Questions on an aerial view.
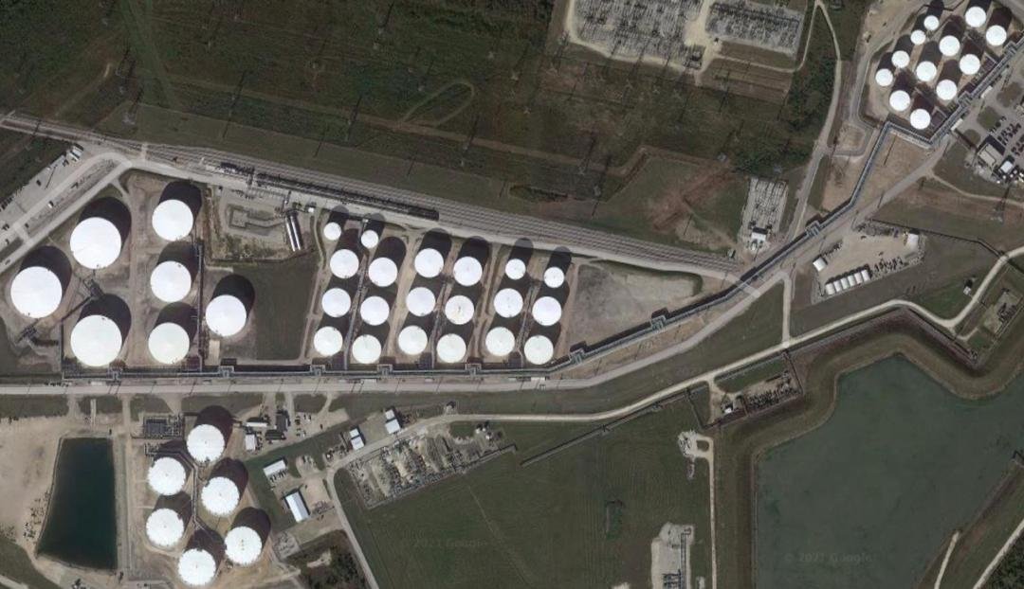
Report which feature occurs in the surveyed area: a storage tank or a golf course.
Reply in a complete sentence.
Of the two, only a storage tank appears.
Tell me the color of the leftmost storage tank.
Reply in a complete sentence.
The leftmost storage tank looks white in the image.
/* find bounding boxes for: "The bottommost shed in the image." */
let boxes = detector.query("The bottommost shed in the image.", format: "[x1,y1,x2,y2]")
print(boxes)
[285,492,309,522]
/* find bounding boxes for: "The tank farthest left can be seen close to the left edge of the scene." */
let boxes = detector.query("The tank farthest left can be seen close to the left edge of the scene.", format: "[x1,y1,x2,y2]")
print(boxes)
[11,266,64,318]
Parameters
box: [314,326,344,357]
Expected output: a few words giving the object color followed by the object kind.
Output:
white storage tank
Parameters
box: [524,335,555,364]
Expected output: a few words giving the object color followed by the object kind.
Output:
white storage tank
